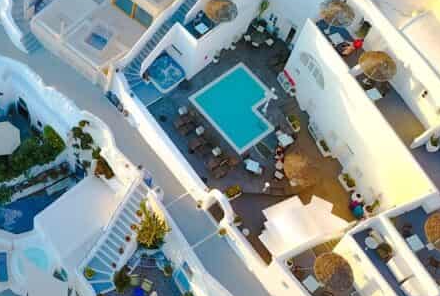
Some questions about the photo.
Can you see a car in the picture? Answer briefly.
No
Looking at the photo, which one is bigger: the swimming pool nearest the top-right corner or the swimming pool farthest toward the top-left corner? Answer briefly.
the swimming pool nearest the top-right corner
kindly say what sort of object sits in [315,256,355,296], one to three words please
umbrella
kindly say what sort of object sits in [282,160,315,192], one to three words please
umbrella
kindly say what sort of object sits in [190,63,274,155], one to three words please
swimming pool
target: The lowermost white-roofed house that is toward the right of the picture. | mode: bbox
[248,195,346,270]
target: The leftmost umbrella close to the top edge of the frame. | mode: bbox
[206,2,236,29]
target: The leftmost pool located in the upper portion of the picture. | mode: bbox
[84,26,117,52]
